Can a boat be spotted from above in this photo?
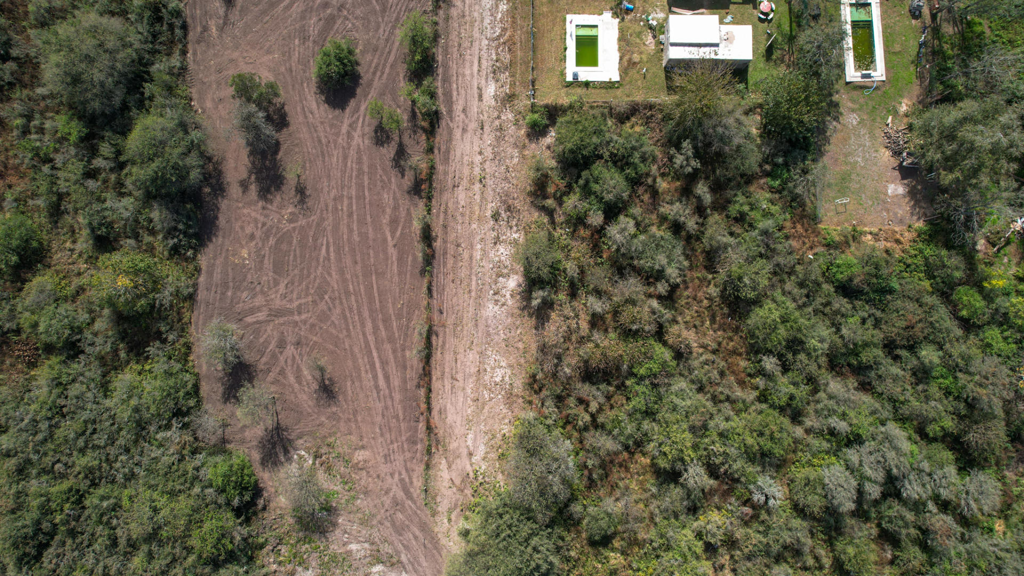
No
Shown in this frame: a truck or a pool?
pool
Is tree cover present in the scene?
Yes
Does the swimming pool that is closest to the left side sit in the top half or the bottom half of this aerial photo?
top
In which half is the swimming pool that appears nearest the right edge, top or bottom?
top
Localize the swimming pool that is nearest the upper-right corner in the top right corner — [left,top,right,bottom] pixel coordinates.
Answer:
[841,0,887,82]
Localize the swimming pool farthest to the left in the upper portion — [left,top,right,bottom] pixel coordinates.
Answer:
[566,11,619,81]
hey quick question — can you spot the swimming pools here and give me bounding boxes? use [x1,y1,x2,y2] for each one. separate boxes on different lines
[566,11,619,81]
[841,0,887,82]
